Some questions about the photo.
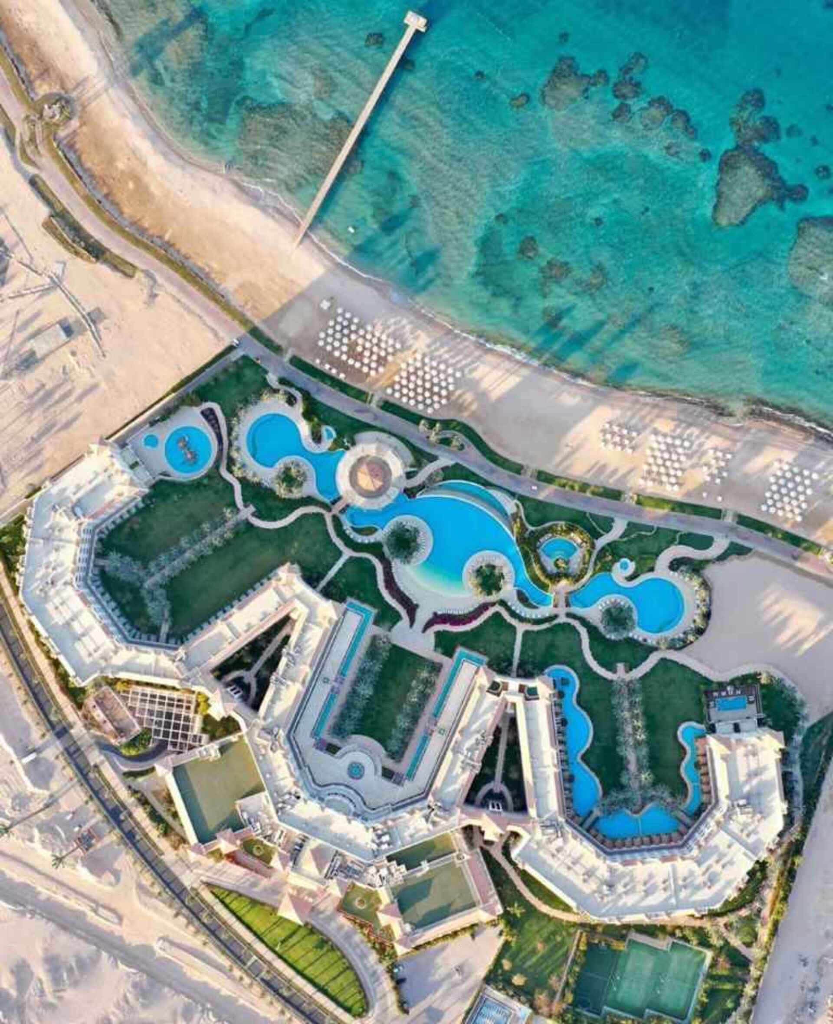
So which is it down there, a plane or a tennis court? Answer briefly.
tennis court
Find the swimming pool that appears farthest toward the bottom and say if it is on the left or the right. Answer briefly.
right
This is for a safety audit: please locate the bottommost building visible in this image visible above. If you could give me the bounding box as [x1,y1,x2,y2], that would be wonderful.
[464,985,531,1024]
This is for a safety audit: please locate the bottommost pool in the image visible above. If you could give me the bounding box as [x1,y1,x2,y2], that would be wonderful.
[592,802,681,838]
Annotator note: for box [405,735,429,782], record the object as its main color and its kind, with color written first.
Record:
blue swimming pool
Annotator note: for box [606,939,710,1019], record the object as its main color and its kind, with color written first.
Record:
green tennis court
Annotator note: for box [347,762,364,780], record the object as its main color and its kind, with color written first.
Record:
blue fountain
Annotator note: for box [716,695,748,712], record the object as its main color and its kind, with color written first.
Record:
blue swimming pool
